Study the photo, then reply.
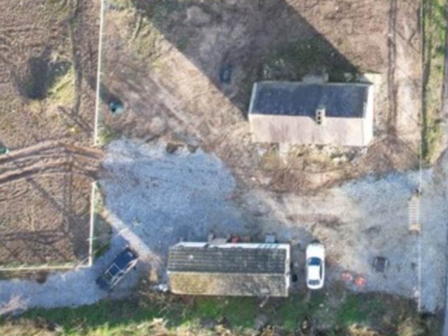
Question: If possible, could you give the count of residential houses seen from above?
two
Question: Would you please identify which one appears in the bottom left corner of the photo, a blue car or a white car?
blue car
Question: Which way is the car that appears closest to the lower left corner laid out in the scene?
on a diagonal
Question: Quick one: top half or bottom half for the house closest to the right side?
top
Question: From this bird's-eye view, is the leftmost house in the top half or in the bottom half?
bottom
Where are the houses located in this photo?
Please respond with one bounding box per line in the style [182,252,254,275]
[169,242,294,299]
[253,70,372,147]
